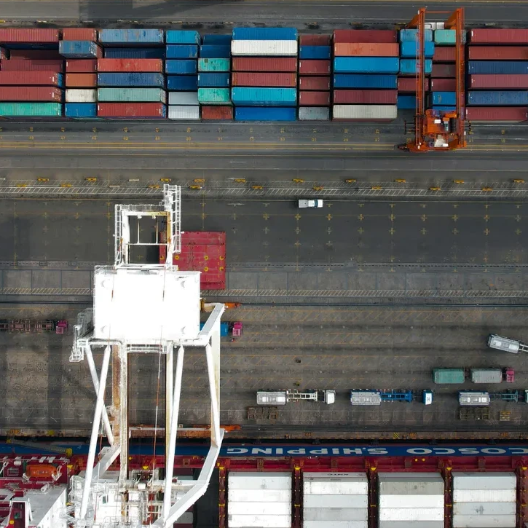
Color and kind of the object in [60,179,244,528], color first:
white container crane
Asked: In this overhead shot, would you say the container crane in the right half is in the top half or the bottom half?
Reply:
top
